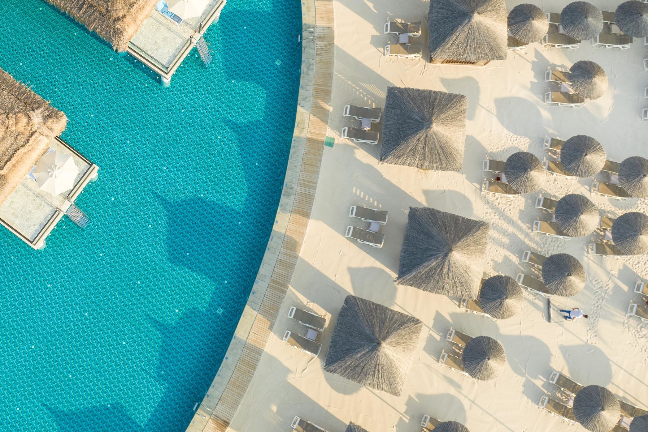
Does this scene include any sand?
Yes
